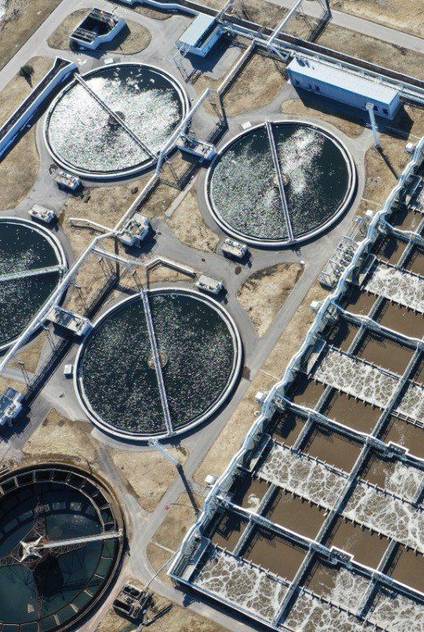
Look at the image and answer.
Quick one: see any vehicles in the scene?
No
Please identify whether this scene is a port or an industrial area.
industrial area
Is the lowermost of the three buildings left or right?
right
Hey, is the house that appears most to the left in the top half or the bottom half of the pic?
top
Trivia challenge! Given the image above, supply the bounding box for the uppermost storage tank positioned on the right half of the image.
[206,117,357,249]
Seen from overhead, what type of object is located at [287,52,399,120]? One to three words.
building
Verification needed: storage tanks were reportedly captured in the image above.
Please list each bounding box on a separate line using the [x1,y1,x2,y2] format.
[206,117,357,249]
[0,216,71,355]
[74,286,244,444]
[42,61,192,181]
[0,465,131,632]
